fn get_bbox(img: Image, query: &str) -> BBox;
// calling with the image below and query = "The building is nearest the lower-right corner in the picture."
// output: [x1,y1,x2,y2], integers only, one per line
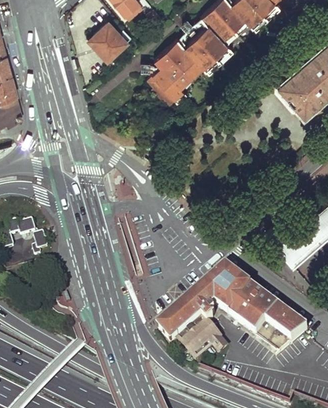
[256,298,306,354]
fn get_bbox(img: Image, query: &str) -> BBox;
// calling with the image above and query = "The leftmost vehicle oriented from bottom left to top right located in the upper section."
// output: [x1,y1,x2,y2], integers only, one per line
[20,135,33,150]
